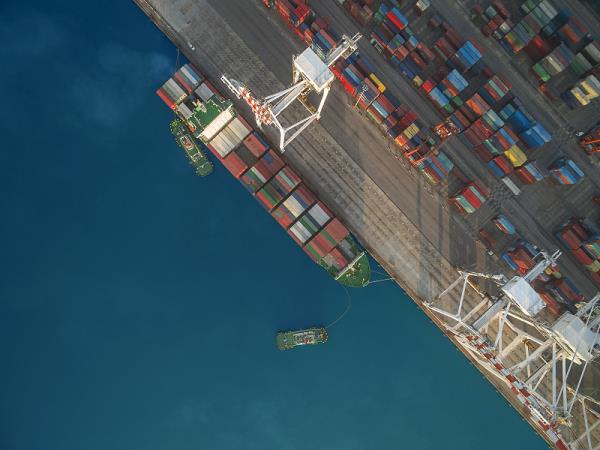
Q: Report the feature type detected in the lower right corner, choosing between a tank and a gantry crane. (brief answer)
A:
gantry crane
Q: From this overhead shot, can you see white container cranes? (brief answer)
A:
Yes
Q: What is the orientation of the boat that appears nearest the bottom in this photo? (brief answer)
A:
from left to right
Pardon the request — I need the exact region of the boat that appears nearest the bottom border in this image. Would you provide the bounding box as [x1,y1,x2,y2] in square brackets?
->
[275,329,329,351]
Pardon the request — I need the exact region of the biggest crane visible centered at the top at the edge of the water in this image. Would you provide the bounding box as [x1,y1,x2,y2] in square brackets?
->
[219,23,366,156]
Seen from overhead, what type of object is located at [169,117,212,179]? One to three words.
boat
